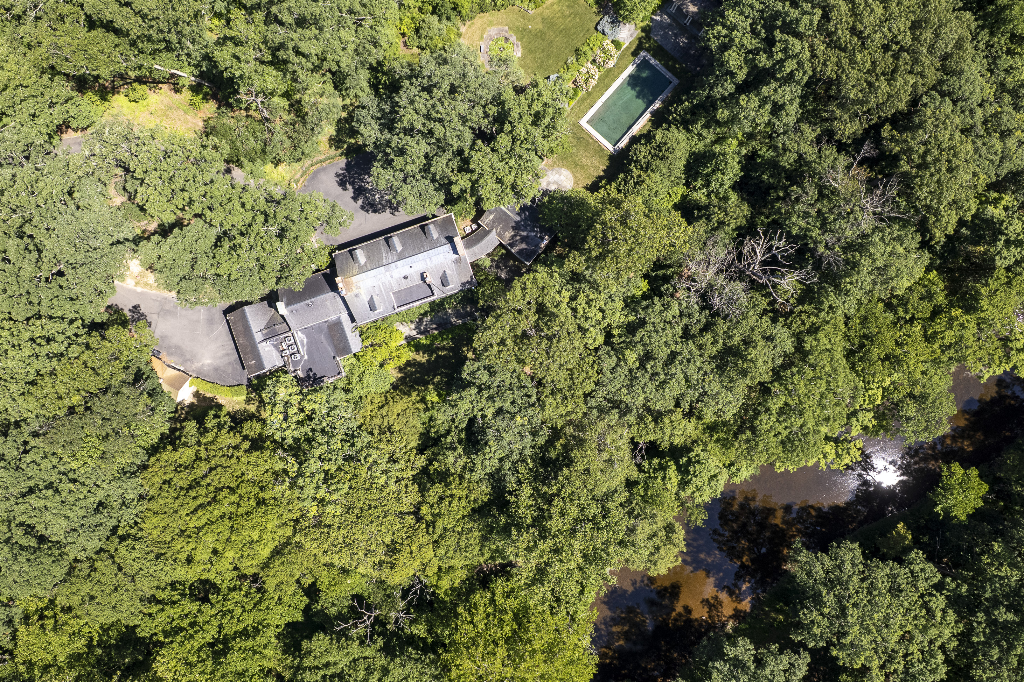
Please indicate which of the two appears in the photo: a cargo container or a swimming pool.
swimming pool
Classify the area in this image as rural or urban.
rural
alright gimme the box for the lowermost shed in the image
[152,355,199,402]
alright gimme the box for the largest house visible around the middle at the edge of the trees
[332,212,477,326]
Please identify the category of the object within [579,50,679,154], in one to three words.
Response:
swimming pool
